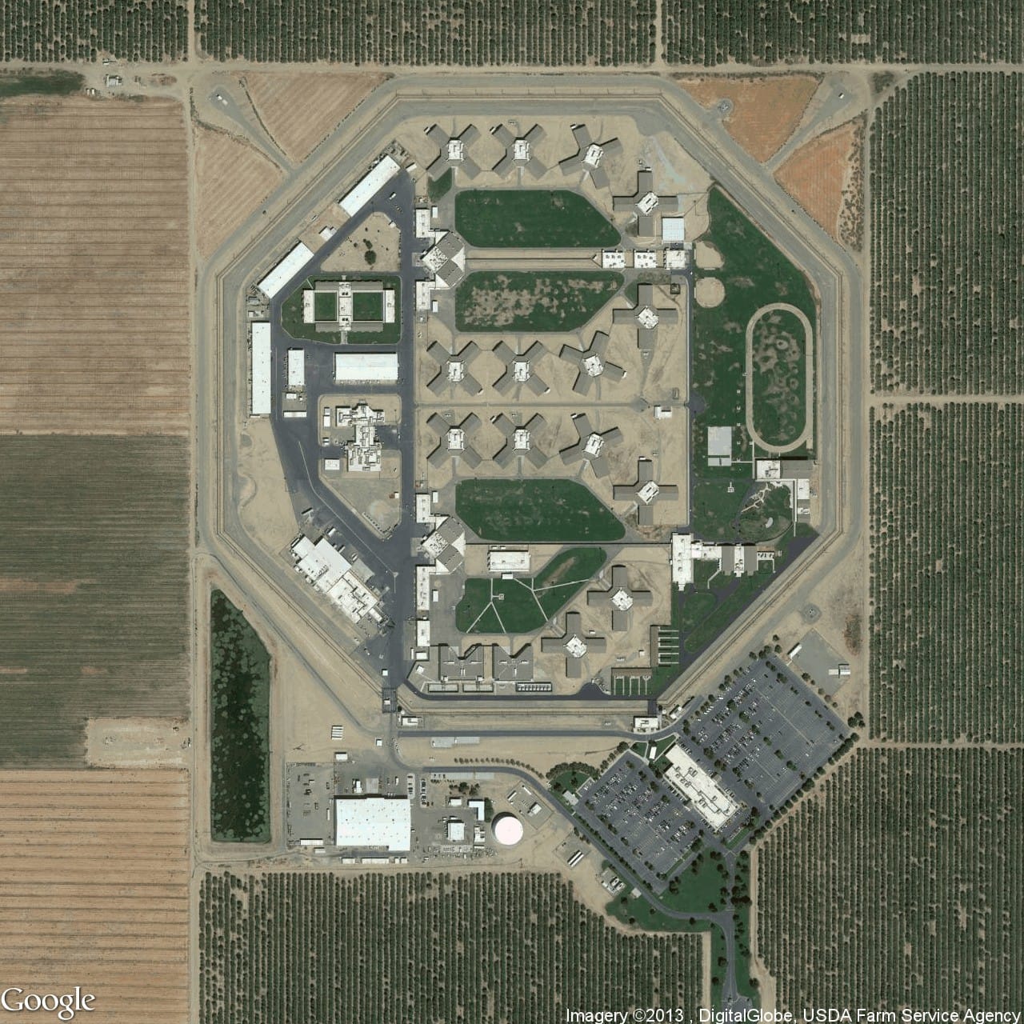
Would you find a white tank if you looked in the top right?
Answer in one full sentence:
No, the scene shows no white tank in the top right.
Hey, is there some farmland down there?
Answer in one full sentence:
Yes, farmland can be seen from above here.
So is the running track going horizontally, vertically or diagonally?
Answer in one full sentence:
From this overhead view, the running track appears to run vertically.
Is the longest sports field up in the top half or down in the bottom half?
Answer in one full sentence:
Seen from above, the longest sports field lies in the top half of the view.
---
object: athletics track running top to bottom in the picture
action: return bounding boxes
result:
[746,302,813,453]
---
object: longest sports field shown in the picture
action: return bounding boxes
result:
[693,188,816,481]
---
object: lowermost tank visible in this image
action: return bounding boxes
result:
[491,814,523,846]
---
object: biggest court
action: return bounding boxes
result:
[708,426,731,455]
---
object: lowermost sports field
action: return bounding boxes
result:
[456,548,606,634]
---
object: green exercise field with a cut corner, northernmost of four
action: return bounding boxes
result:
[455,190,620,247]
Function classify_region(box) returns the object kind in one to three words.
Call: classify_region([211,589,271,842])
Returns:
pond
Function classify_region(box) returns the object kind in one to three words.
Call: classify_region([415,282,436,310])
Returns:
building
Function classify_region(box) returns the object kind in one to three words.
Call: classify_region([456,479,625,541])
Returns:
sports field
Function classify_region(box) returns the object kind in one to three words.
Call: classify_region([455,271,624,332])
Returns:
sports field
